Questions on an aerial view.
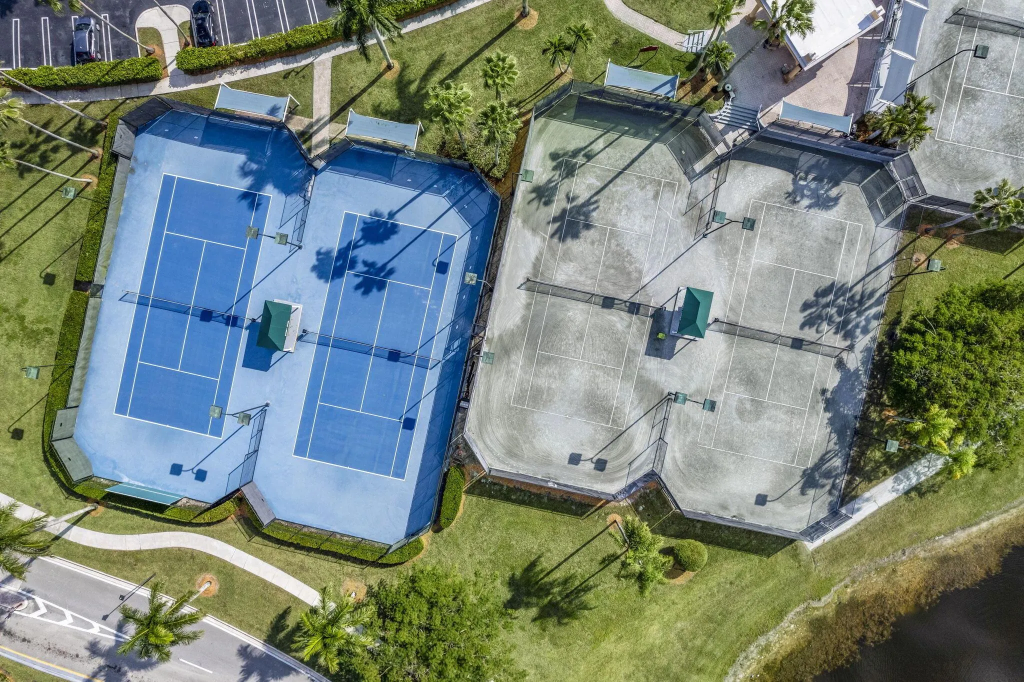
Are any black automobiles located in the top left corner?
Yes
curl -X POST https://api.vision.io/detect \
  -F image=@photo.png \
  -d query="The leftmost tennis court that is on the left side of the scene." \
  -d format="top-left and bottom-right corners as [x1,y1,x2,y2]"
[73,108,318,503]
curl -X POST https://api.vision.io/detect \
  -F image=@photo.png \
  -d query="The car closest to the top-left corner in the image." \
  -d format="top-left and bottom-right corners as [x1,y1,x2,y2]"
[69,15,99,64]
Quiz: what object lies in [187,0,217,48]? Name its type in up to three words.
car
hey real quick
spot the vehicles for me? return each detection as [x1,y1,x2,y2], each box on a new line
[187,0,217,48]
[69,15,99,64]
